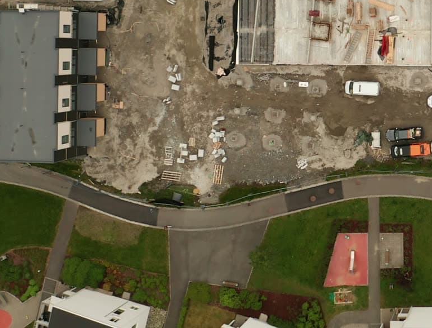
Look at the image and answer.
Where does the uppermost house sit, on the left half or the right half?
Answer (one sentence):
You can find the uppermost house on the left side of the picture.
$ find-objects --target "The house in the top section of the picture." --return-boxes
[0,5,108,163]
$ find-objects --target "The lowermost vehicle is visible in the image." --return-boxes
[392,143,430,156]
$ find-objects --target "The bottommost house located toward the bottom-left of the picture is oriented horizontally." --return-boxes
[44,284,150,328]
